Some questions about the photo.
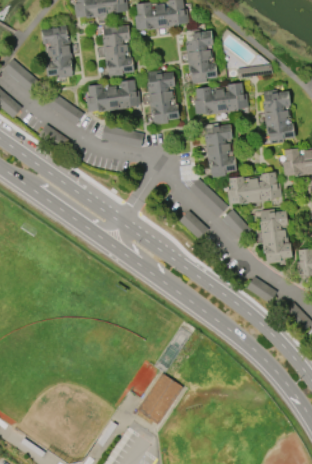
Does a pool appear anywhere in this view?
Yes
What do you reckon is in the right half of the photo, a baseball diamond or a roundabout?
baseball diamond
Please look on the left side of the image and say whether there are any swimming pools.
No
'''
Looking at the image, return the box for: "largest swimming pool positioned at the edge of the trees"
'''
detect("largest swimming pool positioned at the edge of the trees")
[222,29,270,77]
